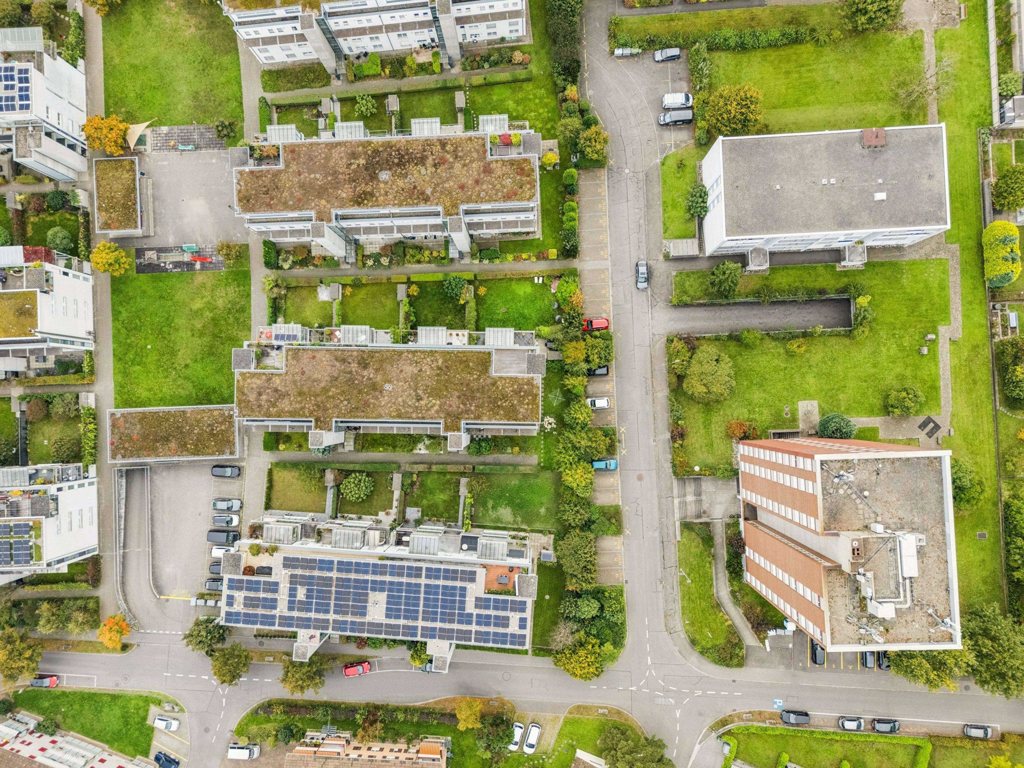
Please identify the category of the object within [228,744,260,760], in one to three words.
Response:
vehicle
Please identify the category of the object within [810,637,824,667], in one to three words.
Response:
car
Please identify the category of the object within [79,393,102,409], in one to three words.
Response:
shed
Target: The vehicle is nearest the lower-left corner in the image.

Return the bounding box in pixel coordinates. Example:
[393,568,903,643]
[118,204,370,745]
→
[30,674,61,690]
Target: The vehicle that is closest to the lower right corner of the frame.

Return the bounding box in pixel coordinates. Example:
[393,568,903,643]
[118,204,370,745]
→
[963,723,992,739]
